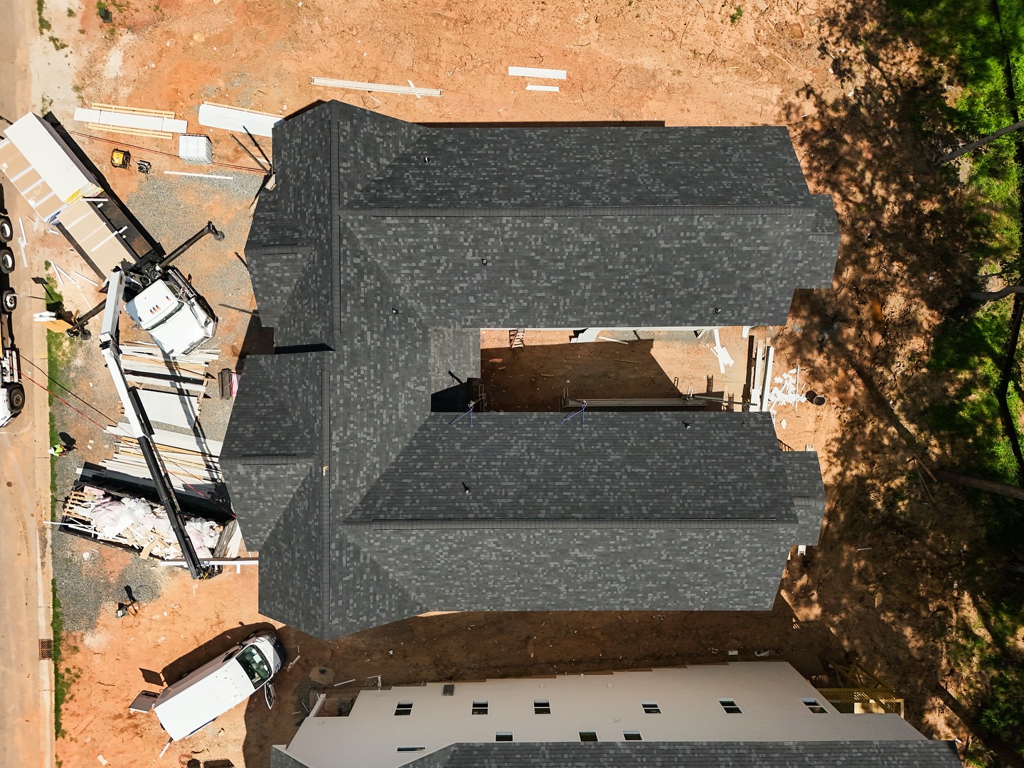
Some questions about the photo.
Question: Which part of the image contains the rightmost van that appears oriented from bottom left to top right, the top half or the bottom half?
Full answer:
It is in the bottom half that the rightmost van that appears oriented from bottom left to top right appears.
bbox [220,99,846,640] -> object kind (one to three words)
house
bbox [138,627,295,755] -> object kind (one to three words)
van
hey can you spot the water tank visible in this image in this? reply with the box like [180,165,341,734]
[173,132,210,162]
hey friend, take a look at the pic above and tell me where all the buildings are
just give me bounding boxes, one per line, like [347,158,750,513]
[270,659,966,768]
[220,99,846,640]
